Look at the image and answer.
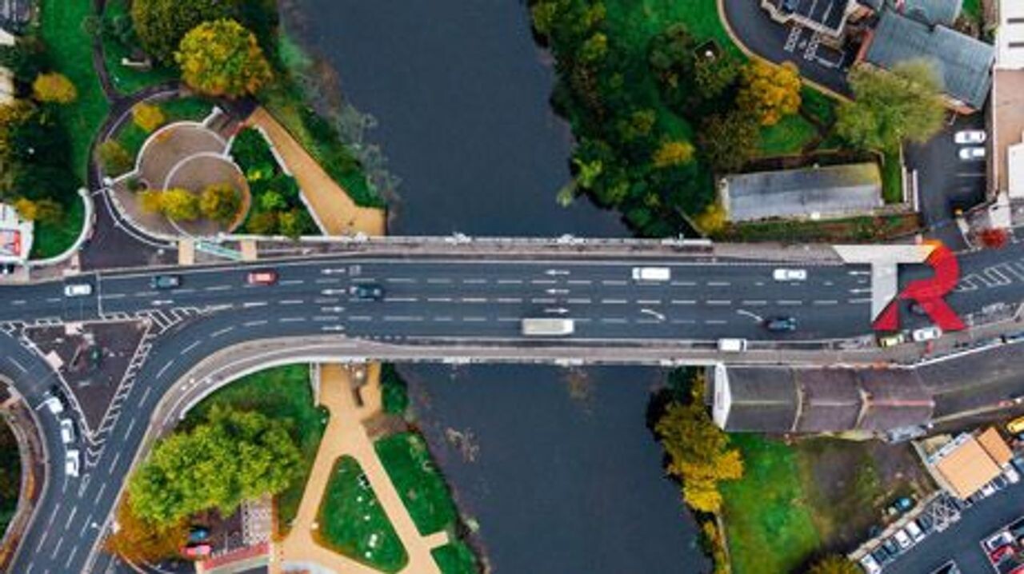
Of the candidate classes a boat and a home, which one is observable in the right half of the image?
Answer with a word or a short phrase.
home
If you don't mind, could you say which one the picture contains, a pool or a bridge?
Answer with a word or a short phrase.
bridge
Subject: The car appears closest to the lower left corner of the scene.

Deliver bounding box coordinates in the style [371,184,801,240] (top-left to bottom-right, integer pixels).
[66,447,83,477]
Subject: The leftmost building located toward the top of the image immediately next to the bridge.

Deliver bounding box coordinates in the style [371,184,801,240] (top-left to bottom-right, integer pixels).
[719,162,890,224]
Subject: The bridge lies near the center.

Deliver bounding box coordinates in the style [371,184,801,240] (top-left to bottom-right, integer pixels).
[340,231,730,369]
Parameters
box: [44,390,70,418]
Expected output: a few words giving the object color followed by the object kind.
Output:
white vehicle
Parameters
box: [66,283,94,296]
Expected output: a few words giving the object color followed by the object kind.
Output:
white vehicle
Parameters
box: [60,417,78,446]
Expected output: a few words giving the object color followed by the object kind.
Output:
white car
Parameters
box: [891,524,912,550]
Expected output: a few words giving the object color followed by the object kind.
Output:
white car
